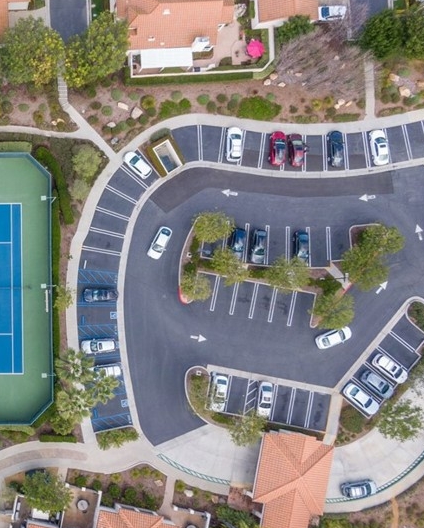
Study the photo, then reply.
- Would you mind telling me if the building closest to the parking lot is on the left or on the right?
right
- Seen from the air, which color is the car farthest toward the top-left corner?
white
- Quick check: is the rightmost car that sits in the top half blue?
No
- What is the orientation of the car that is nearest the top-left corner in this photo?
on a diagonal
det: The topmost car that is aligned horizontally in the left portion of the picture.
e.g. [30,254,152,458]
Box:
[82,286,117,302]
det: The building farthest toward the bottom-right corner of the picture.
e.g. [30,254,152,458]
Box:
[252,427,335,528]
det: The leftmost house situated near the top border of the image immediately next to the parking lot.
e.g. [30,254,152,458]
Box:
[115,0,235,72]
